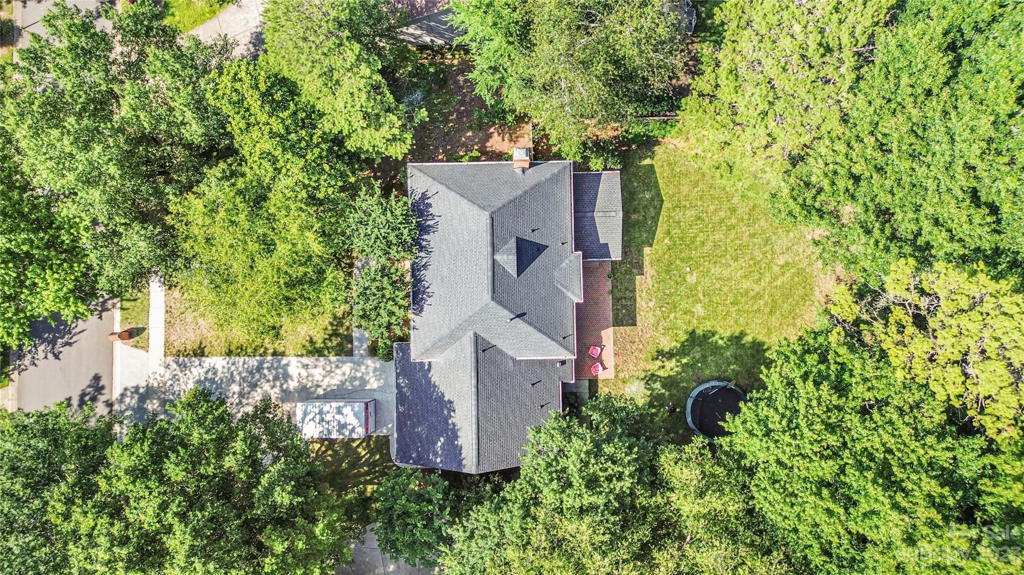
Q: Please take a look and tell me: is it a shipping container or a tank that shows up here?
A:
shipping container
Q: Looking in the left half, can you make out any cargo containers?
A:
Yes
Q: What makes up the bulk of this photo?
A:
trees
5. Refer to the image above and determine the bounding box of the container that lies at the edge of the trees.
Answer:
[297,398,377,438]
